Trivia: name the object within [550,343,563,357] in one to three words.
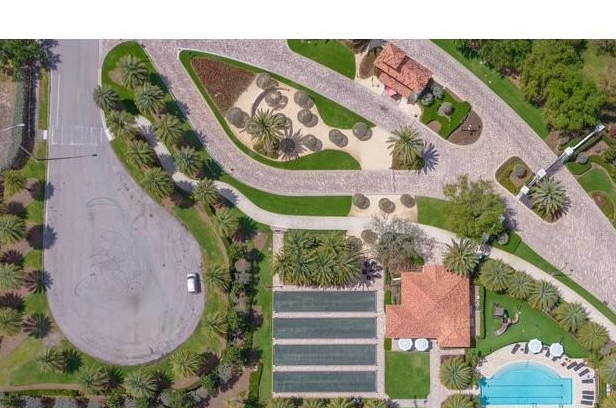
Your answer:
umbrella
